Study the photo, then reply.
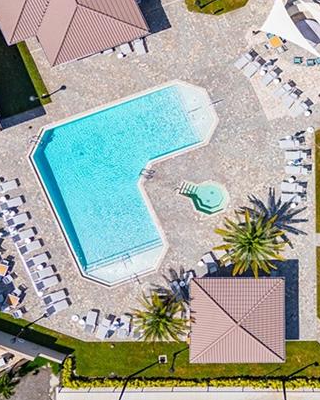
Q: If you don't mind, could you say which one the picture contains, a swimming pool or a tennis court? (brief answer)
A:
swimming pool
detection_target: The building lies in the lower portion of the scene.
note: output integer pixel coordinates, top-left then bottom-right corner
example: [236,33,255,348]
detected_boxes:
[189,277,285,365]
